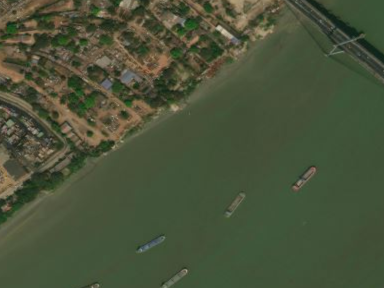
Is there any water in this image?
Yes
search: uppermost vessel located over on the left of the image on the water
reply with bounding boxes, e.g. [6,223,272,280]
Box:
[137,236,165,253]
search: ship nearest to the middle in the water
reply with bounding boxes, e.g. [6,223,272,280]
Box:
[224,193,244,218]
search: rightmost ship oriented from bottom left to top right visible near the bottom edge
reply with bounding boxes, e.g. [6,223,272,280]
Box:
[160,268,187,288]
